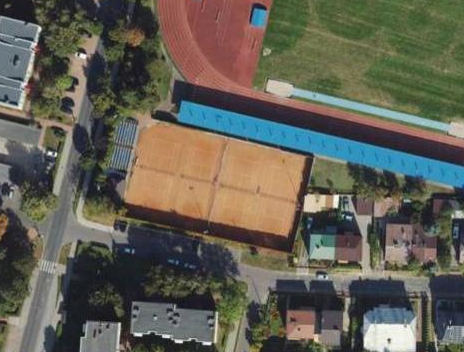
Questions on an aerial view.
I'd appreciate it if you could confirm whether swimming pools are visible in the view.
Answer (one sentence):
No, the photo shows no swimming pool.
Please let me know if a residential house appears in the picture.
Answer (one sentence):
Yes, looking at the shot, I can spot a residential house.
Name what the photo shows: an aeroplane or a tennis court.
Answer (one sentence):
Of the two, only a tennis court appears.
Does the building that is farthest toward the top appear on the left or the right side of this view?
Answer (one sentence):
The building that is farthest toward the top appears in the left half of the scene.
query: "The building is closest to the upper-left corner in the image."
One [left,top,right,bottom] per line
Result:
[0,15,43,108]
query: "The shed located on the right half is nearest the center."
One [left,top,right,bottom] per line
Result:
[304,195,340,212]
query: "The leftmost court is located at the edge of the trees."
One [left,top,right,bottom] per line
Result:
[124,122,188,224]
